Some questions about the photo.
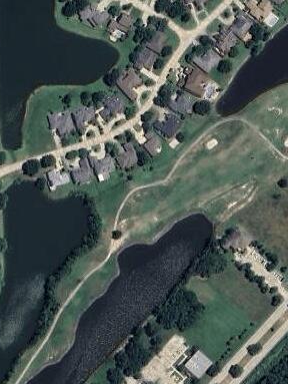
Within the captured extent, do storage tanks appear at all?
No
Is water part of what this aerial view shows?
Yes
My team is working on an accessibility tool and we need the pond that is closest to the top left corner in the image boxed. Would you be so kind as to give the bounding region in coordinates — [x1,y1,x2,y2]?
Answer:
[0,0,119,149]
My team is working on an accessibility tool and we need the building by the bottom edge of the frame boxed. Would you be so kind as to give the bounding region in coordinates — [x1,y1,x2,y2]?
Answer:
[185,350,213,378]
